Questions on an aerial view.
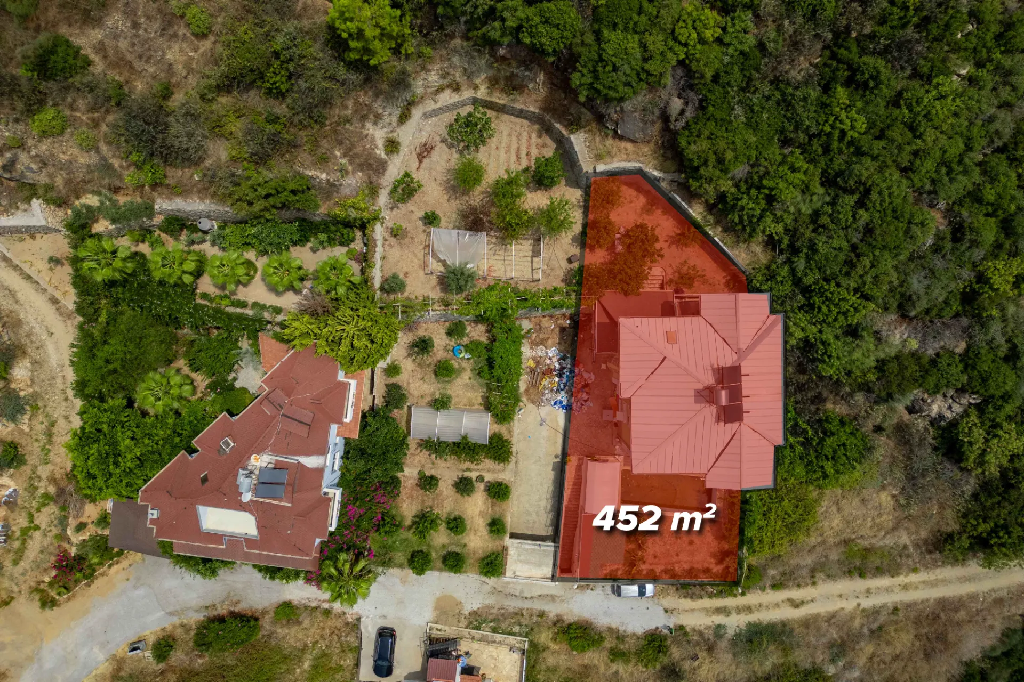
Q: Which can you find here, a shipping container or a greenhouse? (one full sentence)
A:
The image shows a greenhouse.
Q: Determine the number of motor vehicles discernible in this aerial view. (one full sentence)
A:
In total, 2 motor vehicles can be seen.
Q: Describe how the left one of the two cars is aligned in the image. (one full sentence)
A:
The left one of the two cars has been laid out vertically relative to the frame.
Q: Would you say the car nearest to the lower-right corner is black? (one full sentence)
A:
No, the car nearest to the lower-right corner is white.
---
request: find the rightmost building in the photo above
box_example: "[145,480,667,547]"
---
[612,291,788,490]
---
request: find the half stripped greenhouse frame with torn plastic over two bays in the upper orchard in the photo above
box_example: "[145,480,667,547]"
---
[428,231,542,280]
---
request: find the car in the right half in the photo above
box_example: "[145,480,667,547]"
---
[610,579,655,605]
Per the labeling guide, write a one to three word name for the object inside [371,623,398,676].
car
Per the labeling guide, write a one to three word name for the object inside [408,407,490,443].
greenhouse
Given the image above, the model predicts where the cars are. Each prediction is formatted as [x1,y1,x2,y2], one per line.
[371,623,398,676]
[610,579,655,605]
